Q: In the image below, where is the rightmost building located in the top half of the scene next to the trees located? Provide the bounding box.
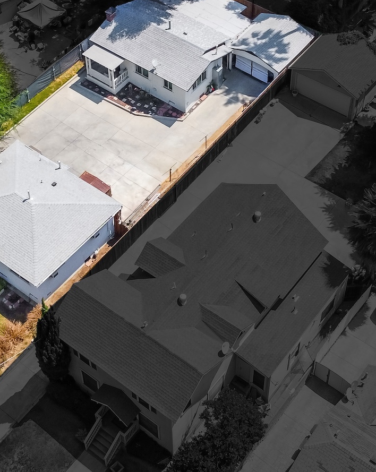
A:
[289,31,376,118]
